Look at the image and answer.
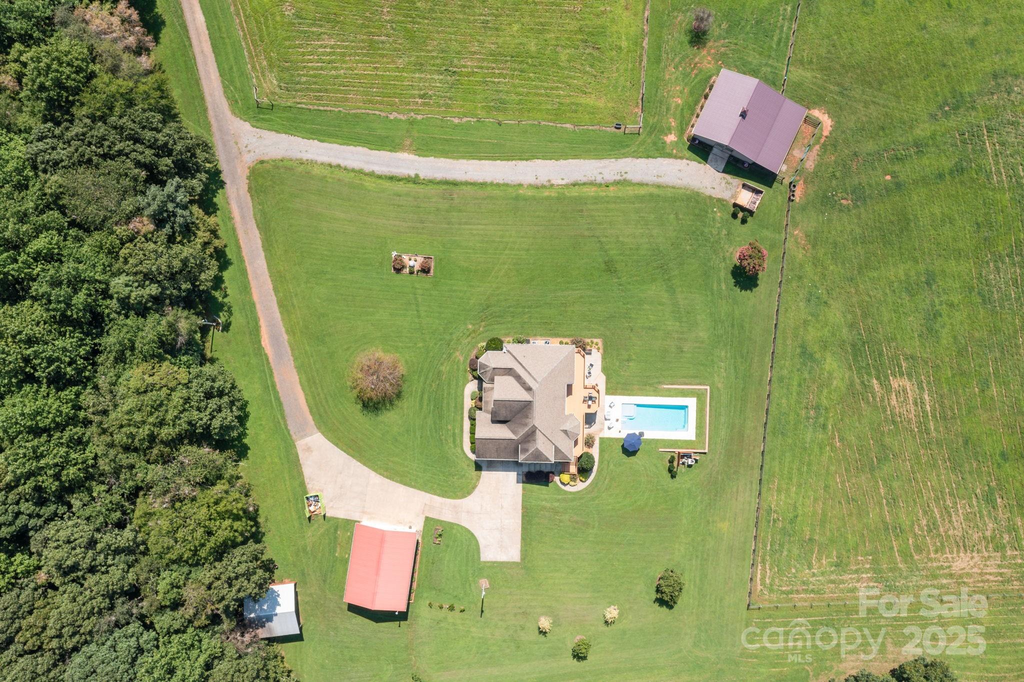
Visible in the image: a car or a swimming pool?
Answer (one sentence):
The image shows a swimming pool.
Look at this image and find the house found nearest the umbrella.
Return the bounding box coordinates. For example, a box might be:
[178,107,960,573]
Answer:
[475,344,581,463]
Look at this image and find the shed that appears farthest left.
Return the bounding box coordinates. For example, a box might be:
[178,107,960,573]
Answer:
[244,583,304,640]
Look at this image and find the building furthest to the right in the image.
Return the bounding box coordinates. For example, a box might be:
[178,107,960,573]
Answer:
[691,69,808,175]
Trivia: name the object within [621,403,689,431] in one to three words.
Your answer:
swimming pool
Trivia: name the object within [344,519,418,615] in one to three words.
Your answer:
barn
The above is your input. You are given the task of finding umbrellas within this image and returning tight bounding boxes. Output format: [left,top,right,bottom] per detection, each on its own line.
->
[624,431,645,451]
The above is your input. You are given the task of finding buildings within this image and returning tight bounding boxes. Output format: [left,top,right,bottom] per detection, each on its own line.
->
[475,344,581,463]
[344,519,418,615]
[691,69,808,175]
[244,583,304,640]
